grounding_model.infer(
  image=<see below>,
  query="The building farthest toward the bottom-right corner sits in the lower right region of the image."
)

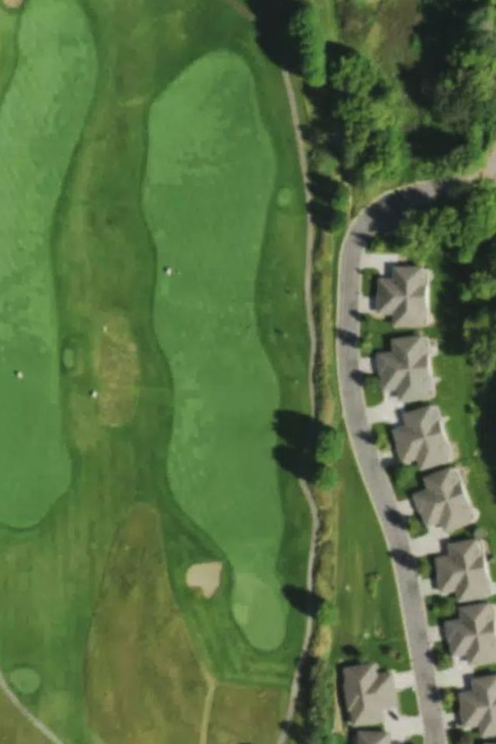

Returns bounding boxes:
[459,676,496,739]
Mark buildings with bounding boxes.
[375,266,430,326]
[411,468,474,535]
[459,676,496,739]
[337,664,394,728]
[443,603,496,668]
[377,336,434,400]
[354,730,405,744]
[433,537,493,602]
[389,403,451,470]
